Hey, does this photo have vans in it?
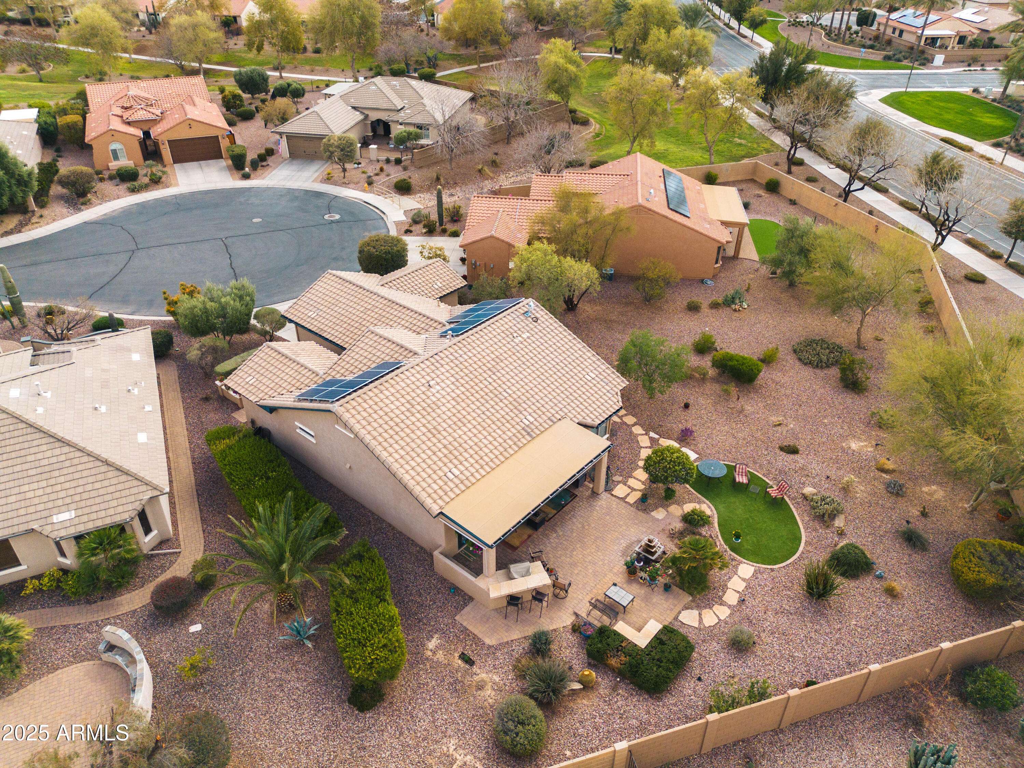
No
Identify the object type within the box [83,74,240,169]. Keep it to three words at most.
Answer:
house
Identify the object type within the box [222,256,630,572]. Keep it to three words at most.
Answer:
house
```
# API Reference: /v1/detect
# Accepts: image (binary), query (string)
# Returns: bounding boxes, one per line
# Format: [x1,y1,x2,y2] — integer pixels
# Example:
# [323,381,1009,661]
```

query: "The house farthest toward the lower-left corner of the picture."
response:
[0,324,181,579]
